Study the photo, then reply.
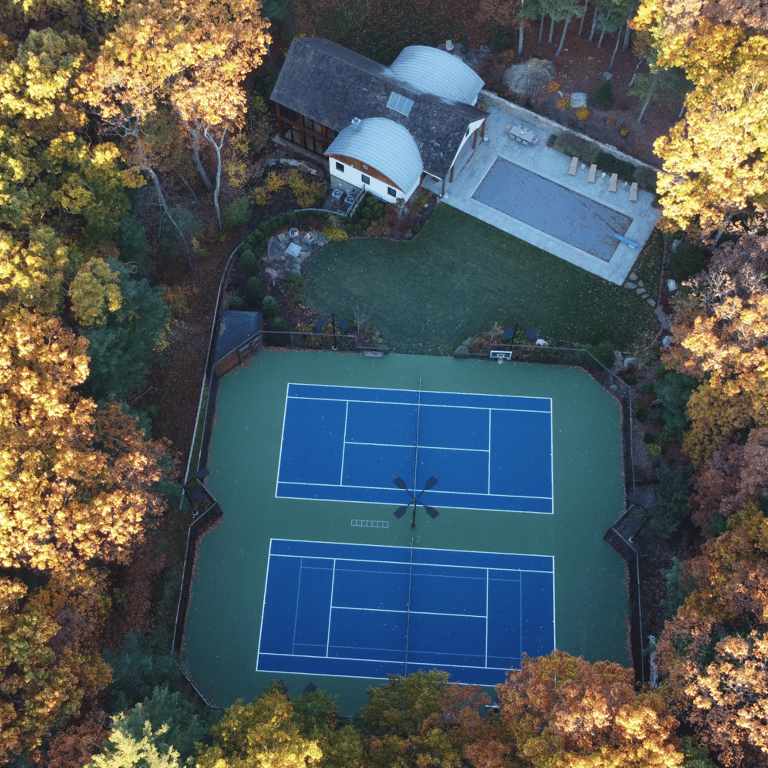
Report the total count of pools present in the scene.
1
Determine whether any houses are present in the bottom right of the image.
No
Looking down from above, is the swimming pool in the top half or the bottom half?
top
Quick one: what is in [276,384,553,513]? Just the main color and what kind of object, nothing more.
blue tennis court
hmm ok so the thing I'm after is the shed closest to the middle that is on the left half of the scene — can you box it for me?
[214,310,264,380]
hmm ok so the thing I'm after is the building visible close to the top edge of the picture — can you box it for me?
[271,38,489,204]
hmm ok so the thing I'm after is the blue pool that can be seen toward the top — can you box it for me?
[465,152,640,267]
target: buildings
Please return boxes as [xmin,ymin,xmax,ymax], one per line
[271,38,489,204]
[214,310,264,380]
